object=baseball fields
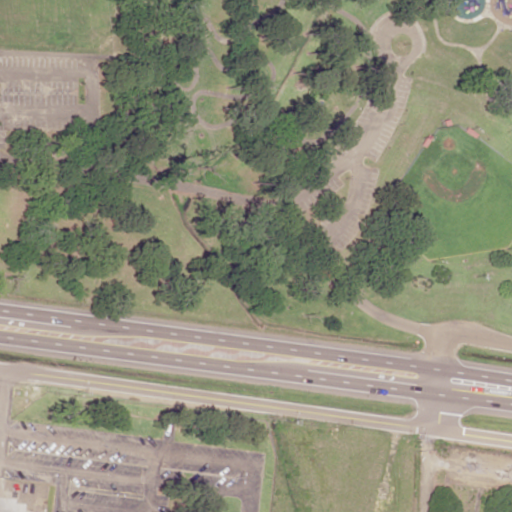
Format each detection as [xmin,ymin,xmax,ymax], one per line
[398,126,512,260]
